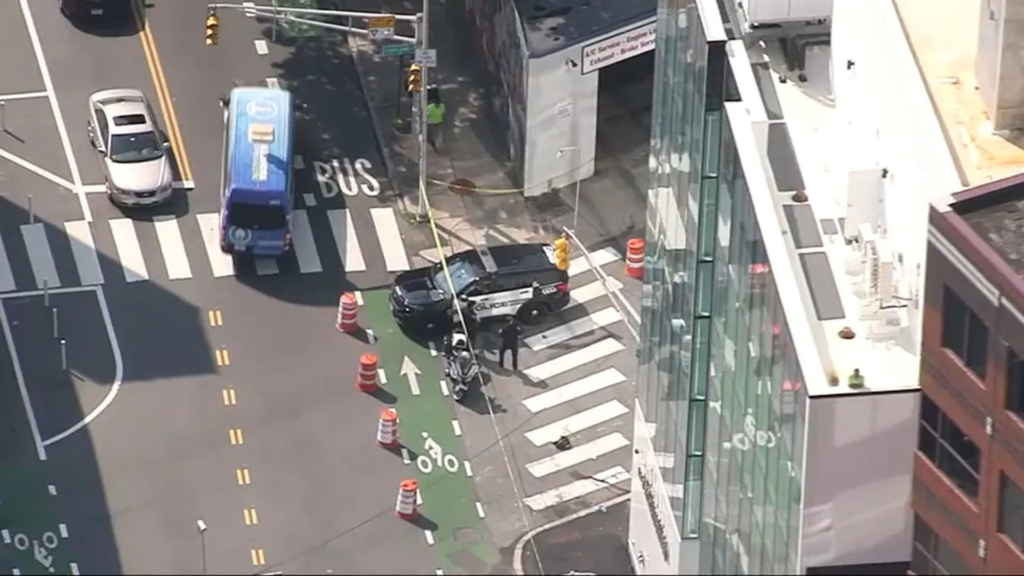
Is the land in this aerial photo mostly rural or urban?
urban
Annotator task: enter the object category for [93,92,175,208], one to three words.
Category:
car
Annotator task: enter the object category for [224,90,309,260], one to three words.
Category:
van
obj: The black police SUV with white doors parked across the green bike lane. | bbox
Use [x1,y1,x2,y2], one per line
[388,238,568,342]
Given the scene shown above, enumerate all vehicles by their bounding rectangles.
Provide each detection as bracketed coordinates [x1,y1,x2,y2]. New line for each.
[93,92,175,208]
[388,238,568,342]
[62,0,130,22]
[224,90,309,260]
[437,315,482,403]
